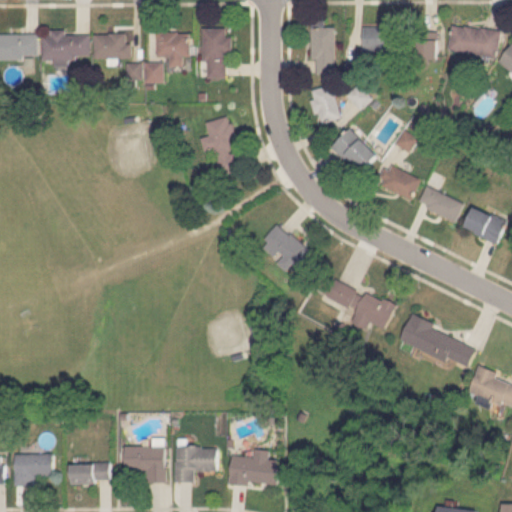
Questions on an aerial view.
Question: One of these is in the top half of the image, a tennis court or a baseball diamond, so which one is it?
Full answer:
The one visible in the top half of the image is a baseball diamond.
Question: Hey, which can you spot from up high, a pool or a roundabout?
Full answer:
I can see a pool in this picture.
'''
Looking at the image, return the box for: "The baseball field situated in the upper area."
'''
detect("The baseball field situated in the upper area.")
[108,116,156,178]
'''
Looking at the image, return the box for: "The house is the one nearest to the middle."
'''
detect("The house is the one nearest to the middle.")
[264,226,306,272]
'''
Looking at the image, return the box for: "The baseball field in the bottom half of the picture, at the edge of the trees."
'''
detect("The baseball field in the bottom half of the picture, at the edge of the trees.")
[208,310,251,360]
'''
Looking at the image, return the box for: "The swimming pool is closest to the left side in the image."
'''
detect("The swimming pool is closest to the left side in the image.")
[4,66,24,86]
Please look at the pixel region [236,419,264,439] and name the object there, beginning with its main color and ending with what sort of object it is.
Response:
blue swimming pool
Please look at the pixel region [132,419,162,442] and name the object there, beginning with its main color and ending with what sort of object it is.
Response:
blue swimming pool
